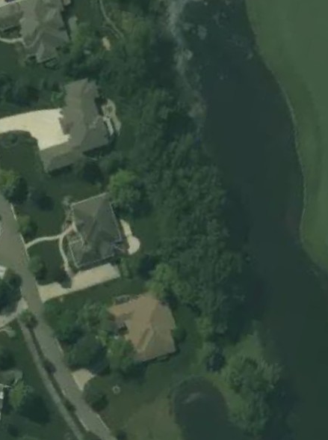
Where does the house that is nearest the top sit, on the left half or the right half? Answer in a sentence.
It is on the left.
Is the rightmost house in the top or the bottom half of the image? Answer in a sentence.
The rightmost house is in the bottom half of the image.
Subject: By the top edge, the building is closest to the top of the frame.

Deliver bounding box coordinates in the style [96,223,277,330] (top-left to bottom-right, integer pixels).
[0,0,74,63]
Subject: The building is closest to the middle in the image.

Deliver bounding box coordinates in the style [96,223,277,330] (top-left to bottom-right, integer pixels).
[69,193,127,271]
